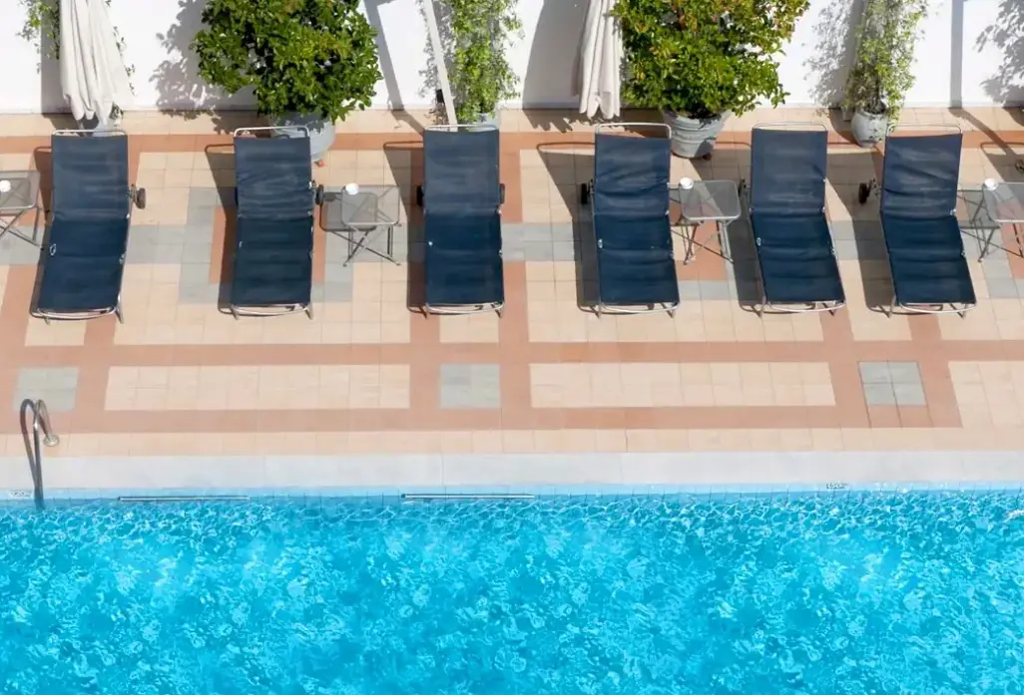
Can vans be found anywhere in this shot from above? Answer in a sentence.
No, I can see no van in this picture.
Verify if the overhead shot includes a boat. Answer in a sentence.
No, no boat is visible in the scene.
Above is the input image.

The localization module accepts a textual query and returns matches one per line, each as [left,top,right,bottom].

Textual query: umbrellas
[579,0,627,134]
[59,0,138,136]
